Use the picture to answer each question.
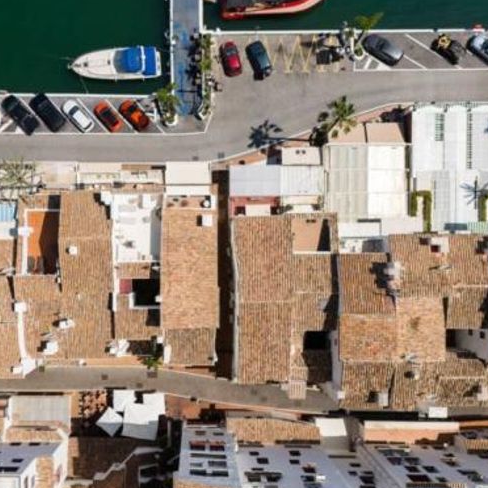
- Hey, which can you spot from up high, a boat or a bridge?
boat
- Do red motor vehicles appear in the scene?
Yes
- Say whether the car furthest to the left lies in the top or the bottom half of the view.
top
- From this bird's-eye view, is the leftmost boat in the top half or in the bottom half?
top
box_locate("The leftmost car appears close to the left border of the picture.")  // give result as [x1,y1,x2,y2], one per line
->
[2,94,39,135]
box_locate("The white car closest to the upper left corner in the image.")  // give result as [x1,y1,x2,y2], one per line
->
[63,99,95,135]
